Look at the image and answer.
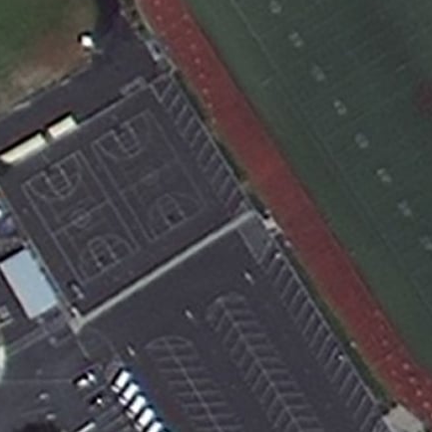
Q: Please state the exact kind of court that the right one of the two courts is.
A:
basketball court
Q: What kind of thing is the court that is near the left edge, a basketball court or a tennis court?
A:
basketball court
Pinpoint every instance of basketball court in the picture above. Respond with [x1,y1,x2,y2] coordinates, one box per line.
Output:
[18,150,141,287]
[89,110,207,243]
